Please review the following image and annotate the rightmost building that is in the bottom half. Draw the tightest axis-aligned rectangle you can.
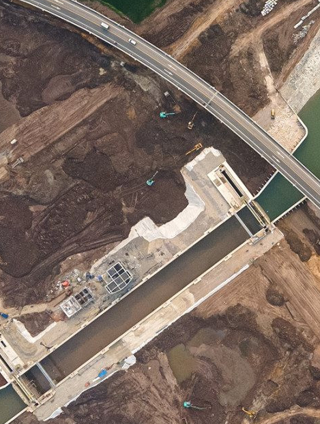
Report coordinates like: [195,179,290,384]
[106,262,133,293]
